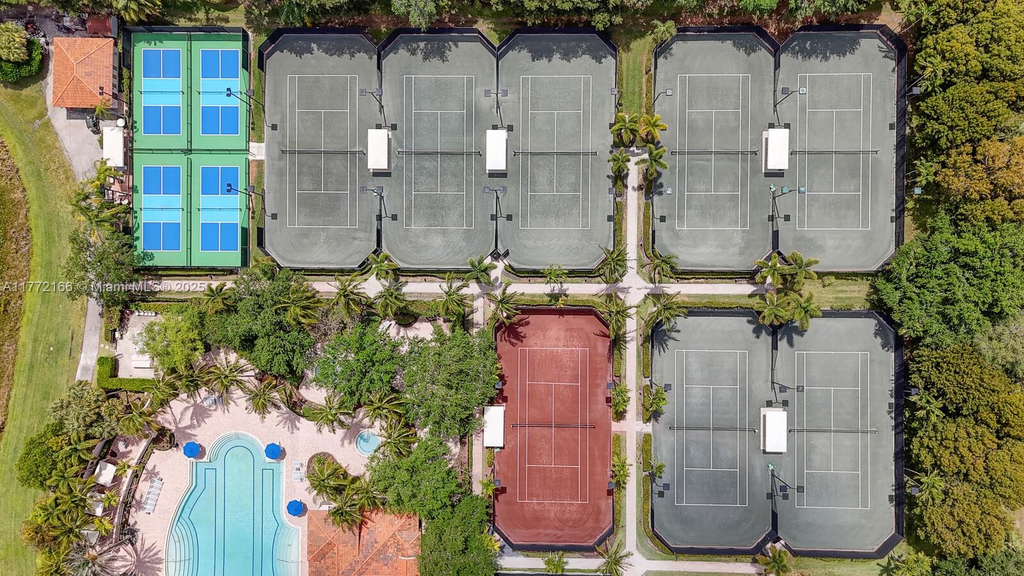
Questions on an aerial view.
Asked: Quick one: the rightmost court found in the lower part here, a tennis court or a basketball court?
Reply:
tennis court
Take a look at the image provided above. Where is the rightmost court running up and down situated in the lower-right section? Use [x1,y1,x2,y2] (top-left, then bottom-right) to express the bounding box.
[777,311,895,551]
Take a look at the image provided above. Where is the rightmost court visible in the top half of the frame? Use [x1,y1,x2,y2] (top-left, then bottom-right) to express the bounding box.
[778,31,896,271]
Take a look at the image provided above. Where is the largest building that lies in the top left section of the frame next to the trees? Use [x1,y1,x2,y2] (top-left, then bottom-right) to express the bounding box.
[52,37,120,108]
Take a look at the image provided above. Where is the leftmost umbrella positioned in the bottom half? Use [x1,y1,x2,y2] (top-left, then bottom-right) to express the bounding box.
[184,442,201,458]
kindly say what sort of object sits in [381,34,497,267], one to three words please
tennis court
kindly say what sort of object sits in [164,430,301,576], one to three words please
swimming pool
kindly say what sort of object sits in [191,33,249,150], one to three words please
sports court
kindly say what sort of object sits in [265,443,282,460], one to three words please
umbrella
